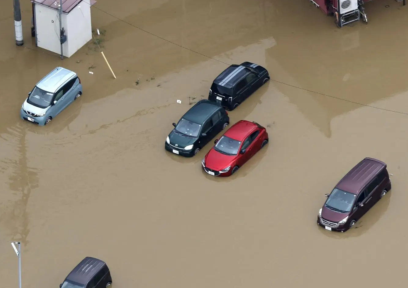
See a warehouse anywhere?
No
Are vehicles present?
Yes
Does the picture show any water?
Yes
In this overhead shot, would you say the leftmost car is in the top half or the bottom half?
top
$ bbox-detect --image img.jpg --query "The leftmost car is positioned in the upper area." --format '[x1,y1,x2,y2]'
[19,66,81,126]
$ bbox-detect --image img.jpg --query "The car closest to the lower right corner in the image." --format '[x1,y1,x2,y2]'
[317,155,394,232]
